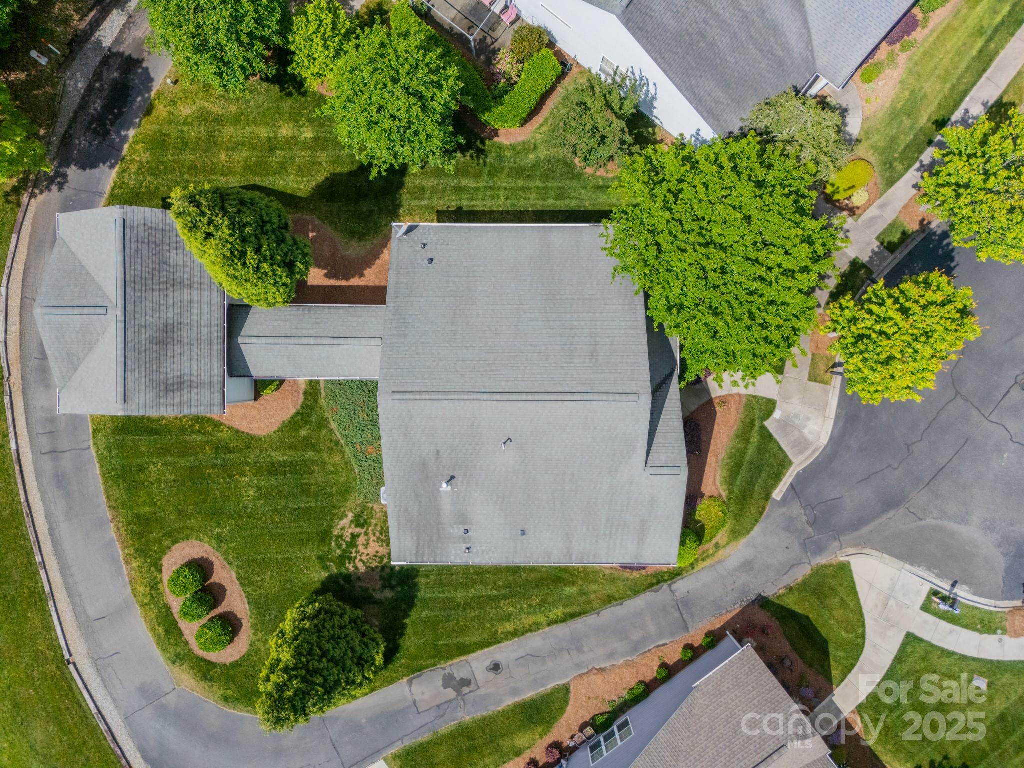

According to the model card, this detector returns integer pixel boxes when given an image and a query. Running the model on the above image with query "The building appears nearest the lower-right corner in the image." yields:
[557,635,840,768]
